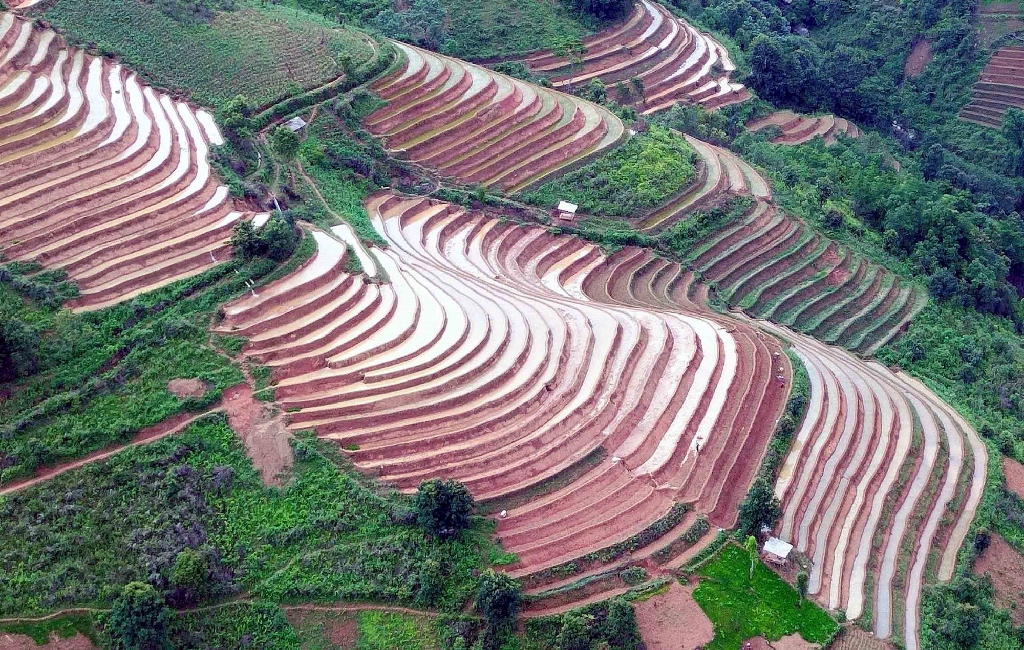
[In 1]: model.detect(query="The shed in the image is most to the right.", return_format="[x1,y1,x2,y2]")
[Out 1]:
[764,537,793,566]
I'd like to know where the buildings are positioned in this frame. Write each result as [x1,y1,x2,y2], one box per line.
[285,116,308,137]
[557,201,578,224]
[764,537,793,566]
